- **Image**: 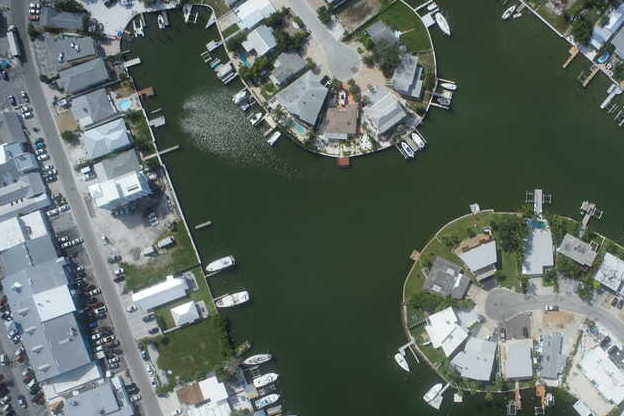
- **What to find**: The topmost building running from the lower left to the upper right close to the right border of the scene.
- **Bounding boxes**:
[593,5,624,46]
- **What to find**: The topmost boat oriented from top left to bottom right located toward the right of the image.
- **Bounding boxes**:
[434,12,450,35]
